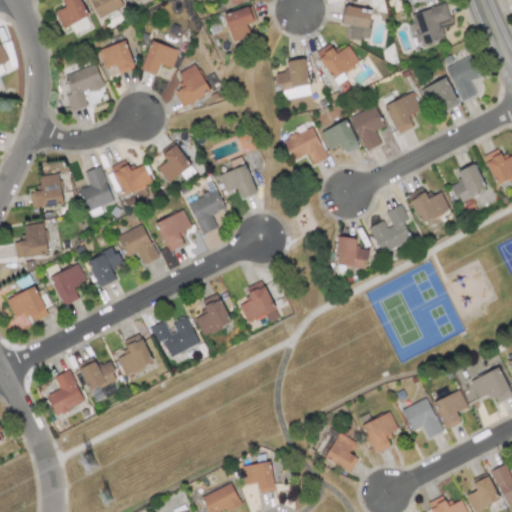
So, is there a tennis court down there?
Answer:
Yes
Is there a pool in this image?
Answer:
Yes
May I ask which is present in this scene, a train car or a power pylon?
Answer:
power pylon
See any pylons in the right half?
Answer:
No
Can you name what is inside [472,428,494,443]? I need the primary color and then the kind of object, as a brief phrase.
white vehicle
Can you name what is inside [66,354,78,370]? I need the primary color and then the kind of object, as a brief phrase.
white vehicle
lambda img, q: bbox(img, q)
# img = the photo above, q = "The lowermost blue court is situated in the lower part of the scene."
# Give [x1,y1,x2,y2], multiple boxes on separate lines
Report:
[367,261,465,362]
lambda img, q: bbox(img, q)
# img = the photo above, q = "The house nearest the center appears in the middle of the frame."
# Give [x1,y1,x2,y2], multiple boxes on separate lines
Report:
[242,280,280,322]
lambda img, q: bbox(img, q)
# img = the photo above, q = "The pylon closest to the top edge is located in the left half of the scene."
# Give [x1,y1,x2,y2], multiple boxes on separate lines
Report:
[76,453,100,478]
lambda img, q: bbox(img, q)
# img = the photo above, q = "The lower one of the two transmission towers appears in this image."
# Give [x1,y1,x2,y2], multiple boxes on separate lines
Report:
[98,490,117,510]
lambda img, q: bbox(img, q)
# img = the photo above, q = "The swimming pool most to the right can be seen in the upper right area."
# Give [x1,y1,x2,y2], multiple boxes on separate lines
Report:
[398,29,412,51]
